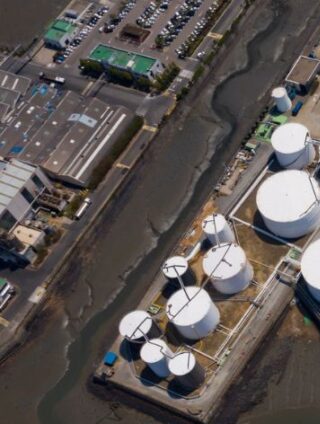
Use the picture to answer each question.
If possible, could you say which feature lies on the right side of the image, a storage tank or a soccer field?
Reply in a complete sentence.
The feature located on the right side of the image is a storage tank.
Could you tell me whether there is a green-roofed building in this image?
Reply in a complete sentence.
Yes, a green-roofed building can be made out from above.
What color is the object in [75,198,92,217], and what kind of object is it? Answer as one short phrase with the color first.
white vehicle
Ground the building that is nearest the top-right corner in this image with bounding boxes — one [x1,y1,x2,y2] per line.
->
[286,55,320,92]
